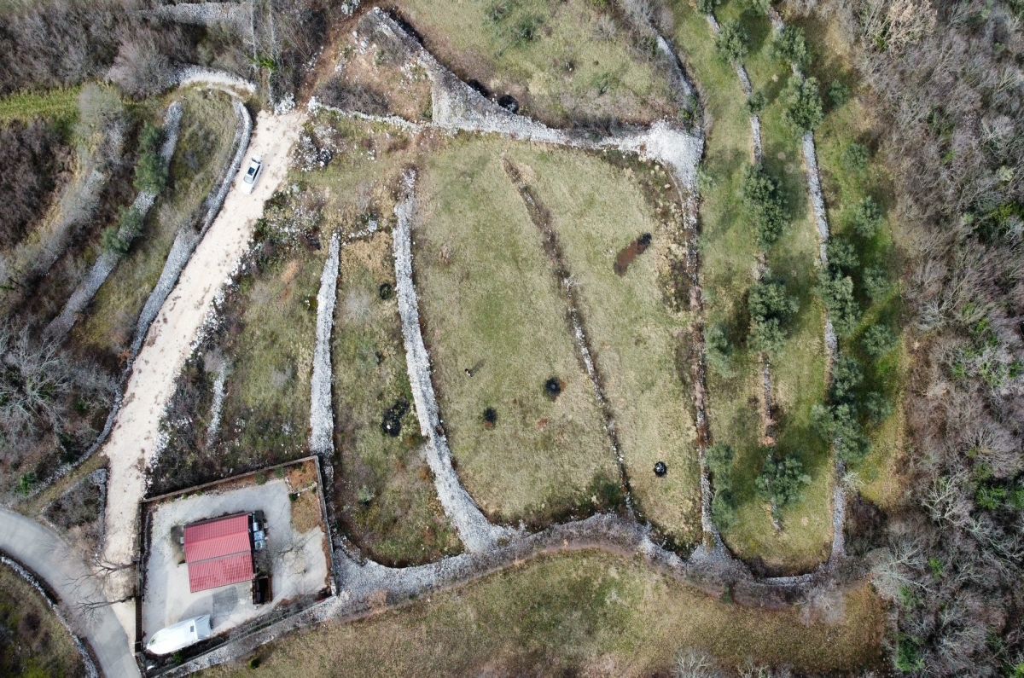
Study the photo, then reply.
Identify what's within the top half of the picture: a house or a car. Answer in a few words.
car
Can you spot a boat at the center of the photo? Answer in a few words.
No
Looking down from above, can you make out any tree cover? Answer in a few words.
Yes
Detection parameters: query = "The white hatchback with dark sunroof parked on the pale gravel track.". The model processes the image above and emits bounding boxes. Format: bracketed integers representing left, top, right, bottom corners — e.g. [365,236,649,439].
[239,155,264,195]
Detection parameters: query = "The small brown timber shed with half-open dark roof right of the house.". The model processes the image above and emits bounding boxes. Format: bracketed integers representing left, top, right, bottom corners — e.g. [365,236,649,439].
[252,572,278,605]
